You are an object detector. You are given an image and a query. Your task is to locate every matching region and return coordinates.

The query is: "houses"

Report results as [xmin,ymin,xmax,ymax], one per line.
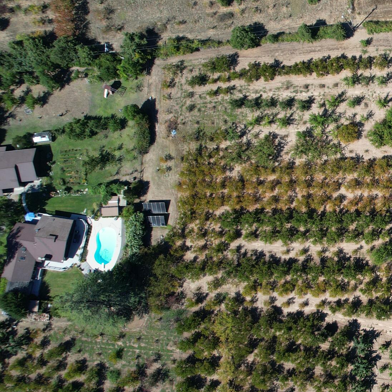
[0,148,44,190]
[1,215,75,293]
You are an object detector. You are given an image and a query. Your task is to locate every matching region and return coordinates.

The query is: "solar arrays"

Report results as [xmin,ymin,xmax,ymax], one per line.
[141,202,169,213]
[147,216,168,226]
